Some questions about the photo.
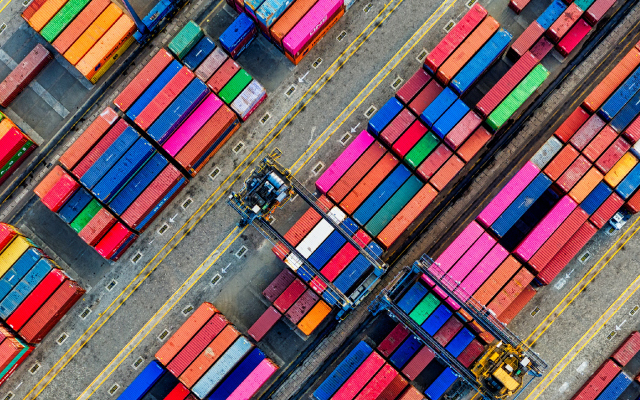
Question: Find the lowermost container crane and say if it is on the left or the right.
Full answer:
The lowermost container crane appears in the right half of the scene.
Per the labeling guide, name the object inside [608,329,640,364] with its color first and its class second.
red shipping container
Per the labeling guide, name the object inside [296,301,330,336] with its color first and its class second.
orange shipping container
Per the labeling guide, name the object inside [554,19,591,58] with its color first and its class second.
red shipping container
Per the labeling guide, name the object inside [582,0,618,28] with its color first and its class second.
pink shipping container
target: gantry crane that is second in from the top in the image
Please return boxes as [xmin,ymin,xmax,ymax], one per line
[219,148,394,320]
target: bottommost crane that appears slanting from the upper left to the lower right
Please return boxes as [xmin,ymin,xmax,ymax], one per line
[367,254,552,400]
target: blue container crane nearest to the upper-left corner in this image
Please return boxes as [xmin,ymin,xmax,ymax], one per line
[119,0,186,46]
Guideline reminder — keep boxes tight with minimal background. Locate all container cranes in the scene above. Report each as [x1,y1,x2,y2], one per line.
[219,148,394,320]
[367,254,552,400]
[119,0,186,46]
